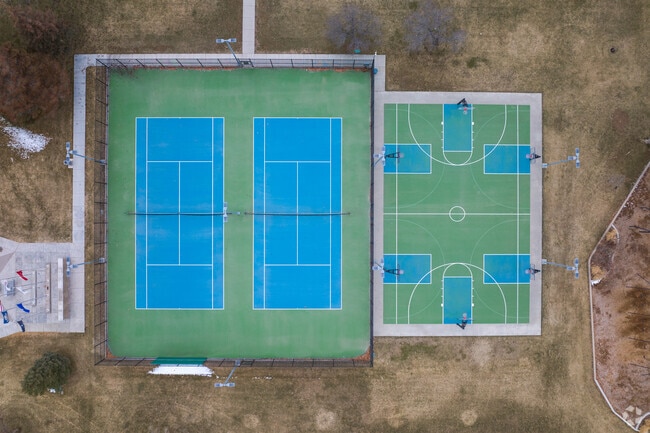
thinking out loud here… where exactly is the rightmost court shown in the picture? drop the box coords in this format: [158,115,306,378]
[384,104,531,324]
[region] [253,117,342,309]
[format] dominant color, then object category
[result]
blue tennis court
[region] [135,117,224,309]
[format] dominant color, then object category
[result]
blue tennis court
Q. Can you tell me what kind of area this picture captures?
sports ground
